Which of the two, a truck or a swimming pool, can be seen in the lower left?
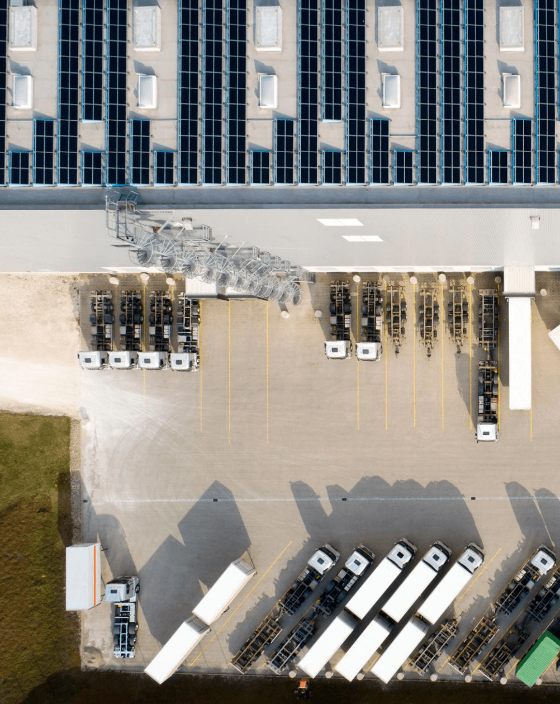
truck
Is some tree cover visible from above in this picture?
No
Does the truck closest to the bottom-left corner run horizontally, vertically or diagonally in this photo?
vertically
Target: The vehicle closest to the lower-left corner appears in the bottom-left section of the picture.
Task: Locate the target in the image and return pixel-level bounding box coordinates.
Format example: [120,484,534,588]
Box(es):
[106,571,141,653]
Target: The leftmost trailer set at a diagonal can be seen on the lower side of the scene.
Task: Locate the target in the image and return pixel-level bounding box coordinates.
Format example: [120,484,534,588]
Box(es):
[230,611,285,675]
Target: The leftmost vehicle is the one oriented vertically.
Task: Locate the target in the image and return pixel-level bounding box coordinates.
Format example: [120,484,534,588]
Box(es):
[80,293,115,374]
